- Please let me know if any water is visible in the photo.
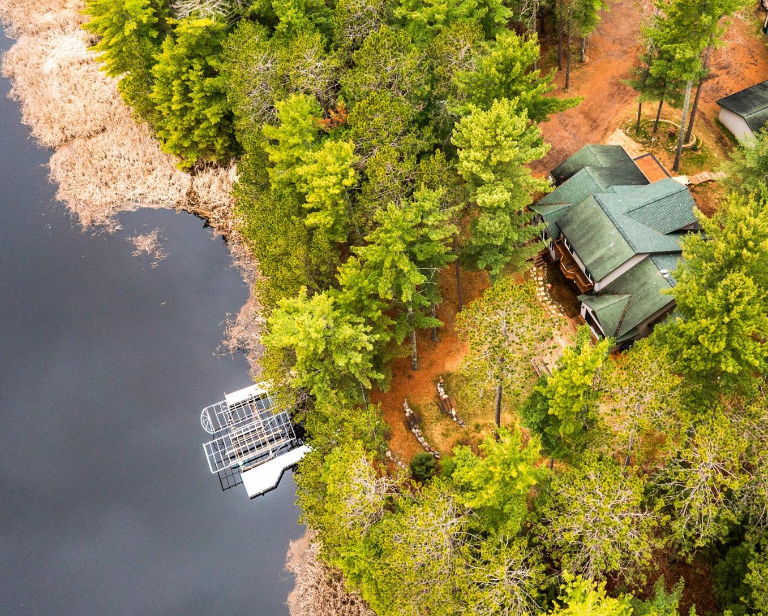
Yes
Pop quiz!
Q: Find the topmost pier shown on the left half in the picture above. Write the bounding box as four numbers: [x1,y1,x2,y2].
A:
[224,377,278,407]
